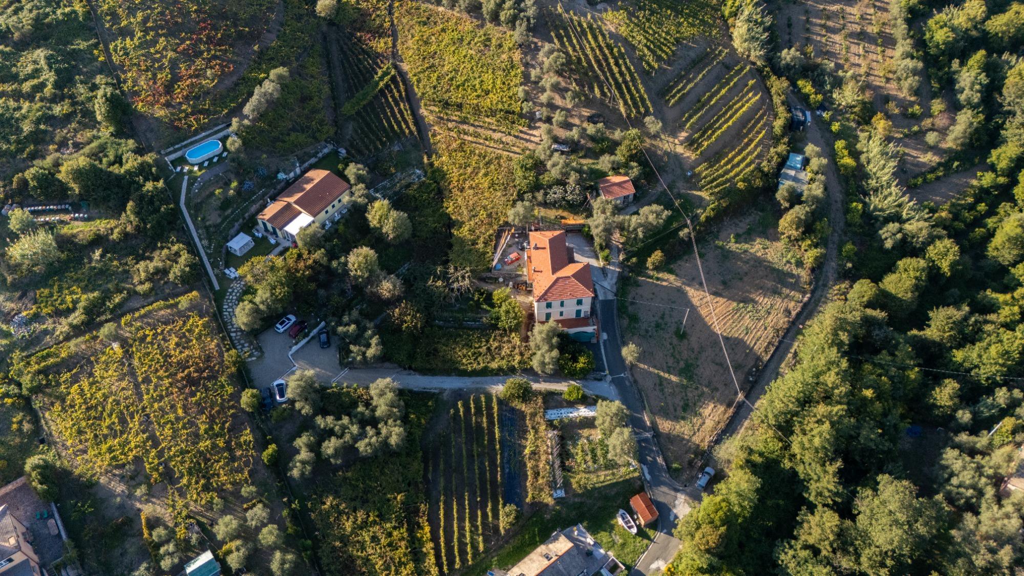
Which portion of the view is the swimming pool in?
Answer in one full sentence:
The swimming pool is in the top left part of the image.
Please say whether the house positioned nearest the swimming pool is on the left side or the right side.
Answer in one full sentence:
It is on the left.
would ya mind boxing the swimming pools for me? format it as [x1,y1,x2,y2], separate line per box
[187,142,224,163]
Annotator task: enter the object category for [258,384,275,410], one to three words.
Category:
car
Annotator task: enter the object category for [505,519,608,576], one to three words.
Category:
house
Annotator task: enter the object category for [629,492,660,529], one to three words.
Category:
shed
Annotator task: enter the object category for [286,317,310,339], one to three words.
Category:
car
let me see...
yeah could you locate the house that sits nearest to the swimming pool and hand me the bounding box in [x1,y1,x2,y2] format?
[246,171,351,255]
